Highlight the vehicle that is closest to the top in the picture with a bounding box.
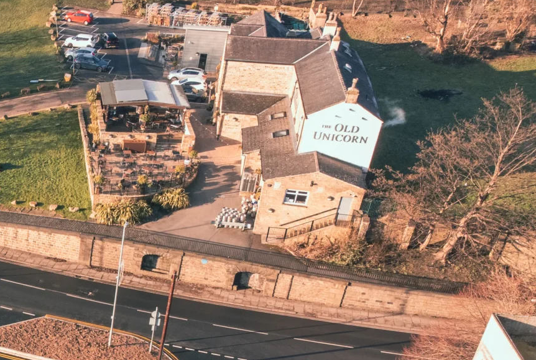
[65,9,94,22]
